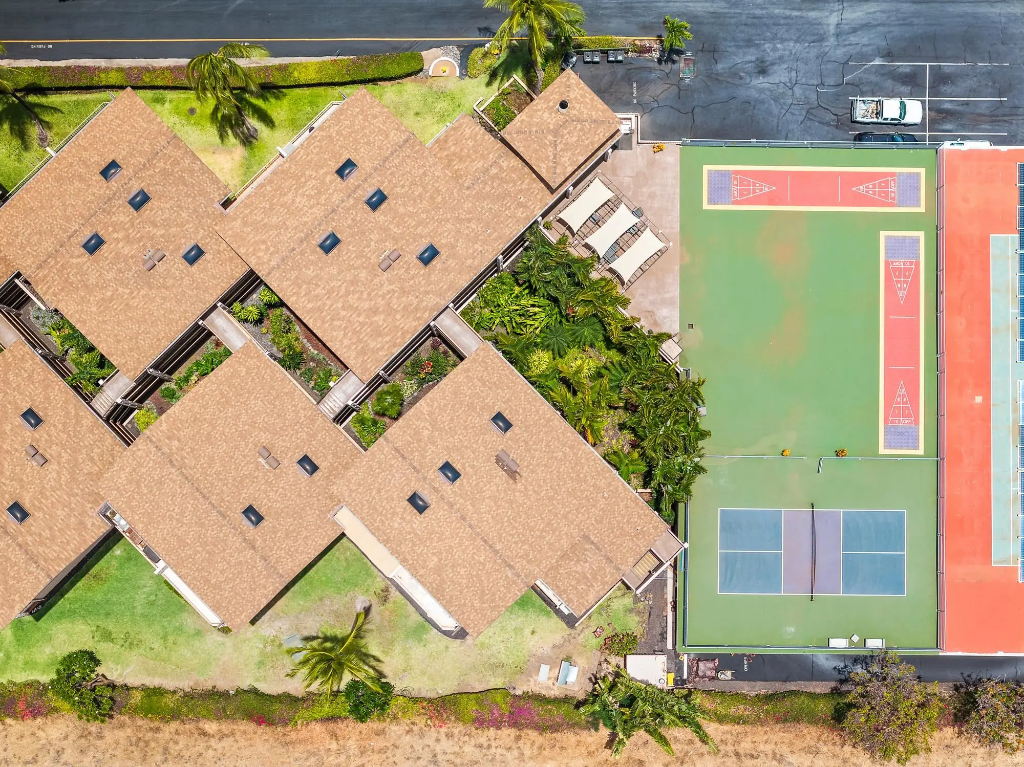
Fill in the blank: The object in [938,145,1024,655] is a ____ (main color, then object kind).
red tennis court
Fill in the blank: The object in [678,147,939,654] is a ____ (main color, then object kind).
green sports court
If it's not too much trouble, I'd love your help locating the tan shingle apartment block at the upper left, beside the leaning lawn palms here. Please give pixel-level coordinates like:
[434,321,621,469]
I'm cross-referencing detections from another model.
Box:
[0,88,270,392]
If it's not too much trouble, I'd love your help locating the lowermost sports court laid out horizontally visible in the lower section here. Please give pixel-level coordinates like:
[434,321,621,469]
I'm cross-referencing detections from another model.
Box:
[718,508,906,596]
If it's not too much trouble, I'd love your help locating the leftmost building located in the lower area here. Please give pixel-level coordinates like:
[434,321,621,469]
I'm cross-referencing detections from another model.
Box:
[0,339,144,631]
